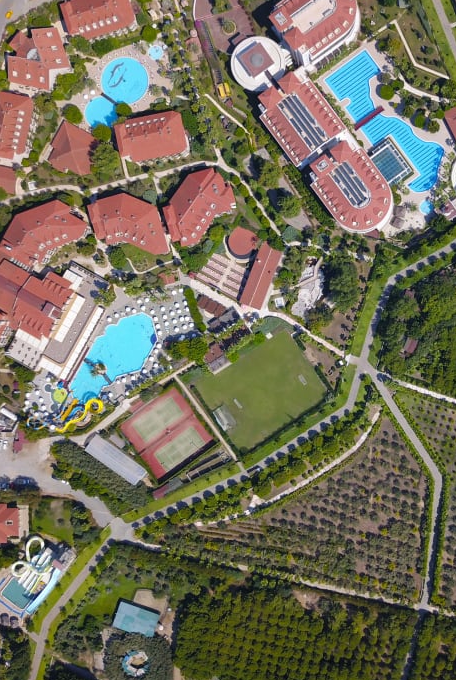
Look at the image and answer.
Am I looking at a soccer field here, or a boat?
soccer field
